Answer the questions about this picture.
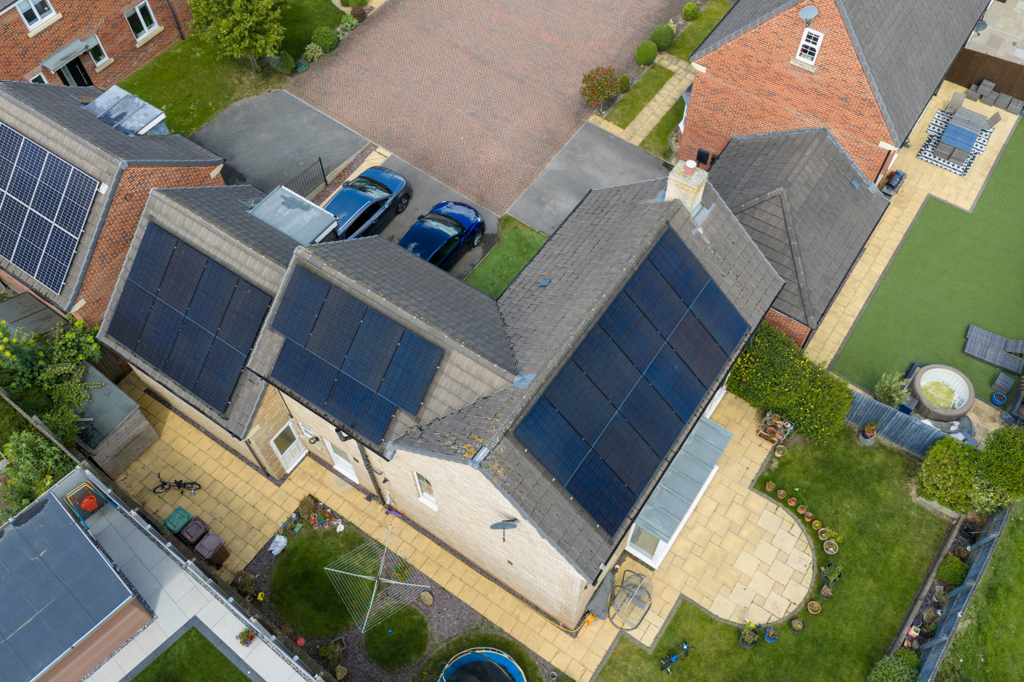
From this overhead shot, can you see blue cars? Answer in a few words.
Yes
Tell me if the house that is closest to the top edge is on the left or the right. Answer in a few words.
left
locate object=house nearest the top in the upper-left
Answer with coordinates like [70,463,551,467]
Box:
[0,0,193,88]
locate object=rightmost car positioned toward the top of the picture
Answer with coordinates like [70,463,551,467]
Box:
[400,200,487,268]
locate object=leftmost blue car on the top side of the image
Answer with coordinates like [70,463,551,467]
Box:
[317,164,412,234]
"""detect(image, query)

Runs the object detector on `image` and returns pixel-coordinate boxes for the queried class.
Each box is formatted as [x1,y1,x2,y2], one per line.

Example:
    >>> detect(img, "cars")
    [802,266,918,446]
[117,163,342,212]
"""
[317,164,412,234]
[400,200,487,268]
